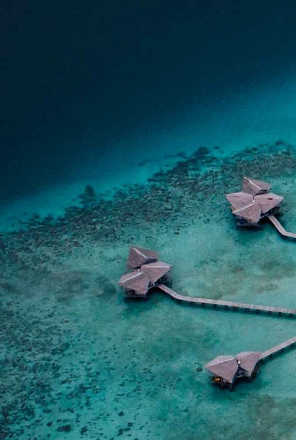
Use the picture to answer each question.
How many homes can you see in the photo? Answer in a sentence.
There are 3 homes in the image.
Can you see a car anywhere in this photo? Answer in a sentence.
No, no car can be seen from above.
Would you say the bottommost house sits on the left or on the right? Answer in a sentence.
It is on the right.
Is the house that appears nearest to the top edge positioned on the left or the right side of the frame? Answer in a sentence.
You can find the house that appears nearest to the top edge on the right side of the picture.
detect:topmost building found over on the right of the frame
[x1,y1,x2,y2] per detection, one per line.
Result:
[226,178,287,235]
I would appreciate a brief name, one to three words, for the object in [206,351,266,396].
house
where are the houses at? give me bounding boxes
[206,351,266,396]
[118,246,179,308]
[226,178,287,235]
